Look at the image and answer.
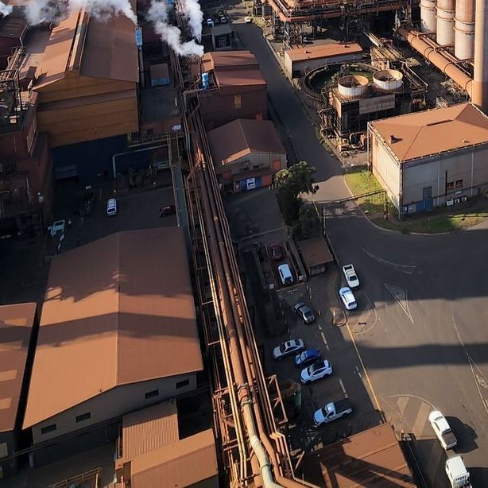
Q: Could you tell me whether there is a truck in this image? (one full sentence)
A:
Yes, this view includes a truck.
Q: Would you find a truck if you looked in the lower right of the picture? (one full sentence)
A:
Yes, looking in the lower right of the picture, one can make out a truck.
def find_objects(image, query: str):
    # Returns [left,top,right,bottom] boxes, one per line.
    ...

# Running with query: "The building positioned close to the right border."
[370,107,488,213]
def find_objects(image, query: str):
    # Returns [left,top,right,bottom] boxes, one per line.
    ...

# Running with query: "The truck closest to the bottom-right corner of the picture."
[439,450,475,488]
